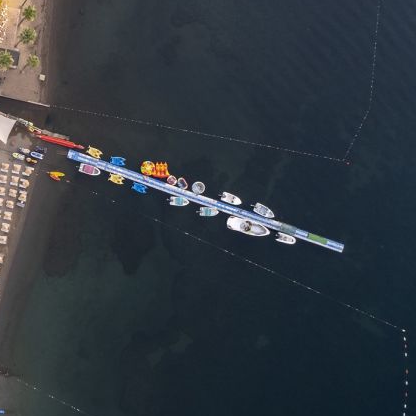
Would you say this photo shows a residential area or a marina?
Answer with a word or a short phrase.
marina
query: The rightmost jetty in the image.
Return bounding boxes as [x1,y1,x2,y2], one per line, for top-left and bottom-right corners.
[66,151,344,249]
